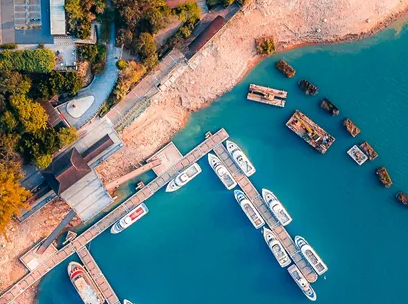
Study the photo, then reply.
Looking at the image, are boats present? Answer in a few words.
Yes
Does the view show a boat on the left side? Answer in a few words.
Yes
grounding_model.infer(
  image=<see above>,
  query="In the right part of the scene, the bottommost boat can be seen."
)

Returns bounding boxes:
[287,263,316,303]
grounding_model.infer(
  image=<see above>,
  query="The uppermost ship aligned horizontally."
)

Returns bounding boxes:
[245,82,288,108]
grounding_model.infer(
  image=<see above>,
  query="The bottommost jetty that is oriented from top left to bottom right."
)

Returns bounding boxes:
[73,248,117,304]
